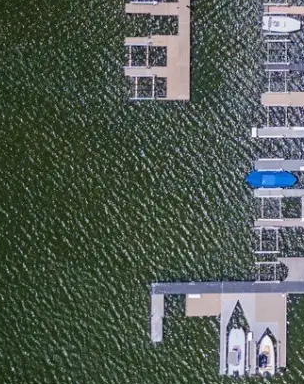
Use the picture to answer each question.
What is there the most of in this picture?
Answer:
water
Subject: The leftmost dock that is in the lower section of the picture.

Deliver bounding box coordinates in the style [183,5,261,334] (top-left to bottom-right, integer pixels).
[150,293,165,342]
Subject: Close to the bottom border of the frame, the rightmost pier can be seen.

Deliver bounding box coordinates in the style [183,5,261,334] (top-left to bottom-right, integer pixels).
[255,293,287,368]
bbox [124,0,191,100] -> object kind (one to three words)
pier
